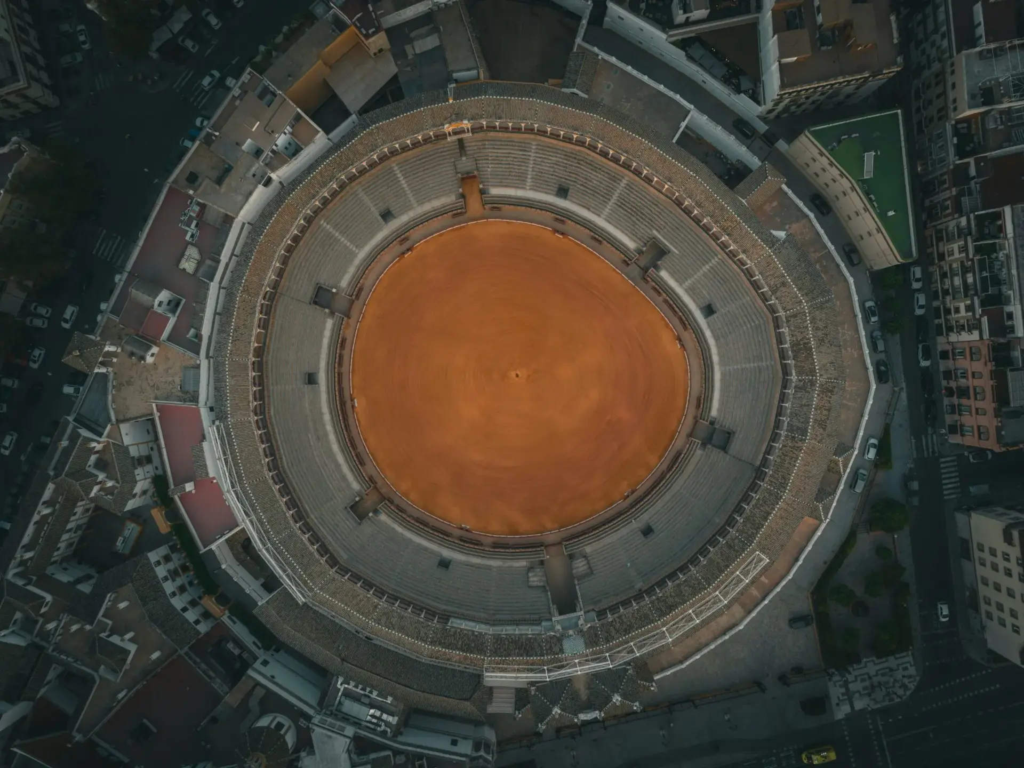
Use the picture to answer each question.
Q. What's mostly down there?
buildings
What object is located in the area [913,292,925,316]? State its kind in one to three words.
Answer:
vehicle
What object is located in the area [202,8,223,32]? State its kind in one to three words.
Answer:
car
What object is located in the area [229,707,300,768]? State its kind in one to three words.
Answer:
building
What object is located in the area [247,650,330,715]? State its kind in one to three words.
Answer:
house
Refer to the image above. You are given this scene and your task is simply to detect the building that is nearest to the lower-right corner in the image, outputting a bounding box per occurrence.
[954,500,1024,661]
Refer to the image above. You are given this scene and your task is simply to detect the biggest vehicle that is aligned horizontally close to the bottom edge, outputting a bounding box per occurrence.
[802,745,837,765]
